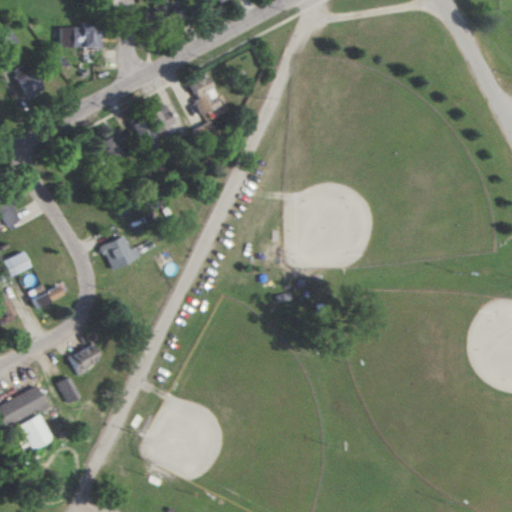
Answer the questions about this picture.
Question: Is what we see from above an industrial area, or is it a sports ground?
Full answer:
What you see here is a sports ground.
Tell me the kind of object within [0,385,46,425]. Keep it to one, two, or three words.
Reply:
house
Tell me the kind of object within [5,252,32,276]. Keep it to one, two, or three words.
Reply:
building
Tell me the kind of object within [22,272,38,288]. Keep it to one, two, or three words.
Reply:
swimming pool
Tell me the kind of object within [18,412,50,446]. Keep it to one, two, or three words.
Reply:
building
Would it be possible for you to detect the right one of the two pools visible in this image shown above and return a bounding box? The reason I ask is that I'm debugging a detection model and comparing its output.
[164,261,179,276]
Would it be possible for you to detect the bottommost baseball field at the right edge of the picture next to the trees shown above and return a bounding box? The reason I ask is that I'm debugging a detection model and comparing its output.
[346,288,512,512]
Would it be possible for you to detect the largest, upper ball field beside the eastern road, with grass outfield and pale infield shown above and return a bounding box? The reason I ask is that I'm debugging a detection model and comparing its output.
[282,55,496,270]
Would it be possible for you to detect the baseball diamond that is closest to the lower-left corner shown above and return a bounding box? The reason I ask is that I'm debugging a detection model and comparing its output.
[140,296,324,512]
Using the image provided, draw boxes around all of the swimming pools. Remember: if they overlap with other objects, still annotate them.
[22,272,38,288]
[164,261,179,276]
